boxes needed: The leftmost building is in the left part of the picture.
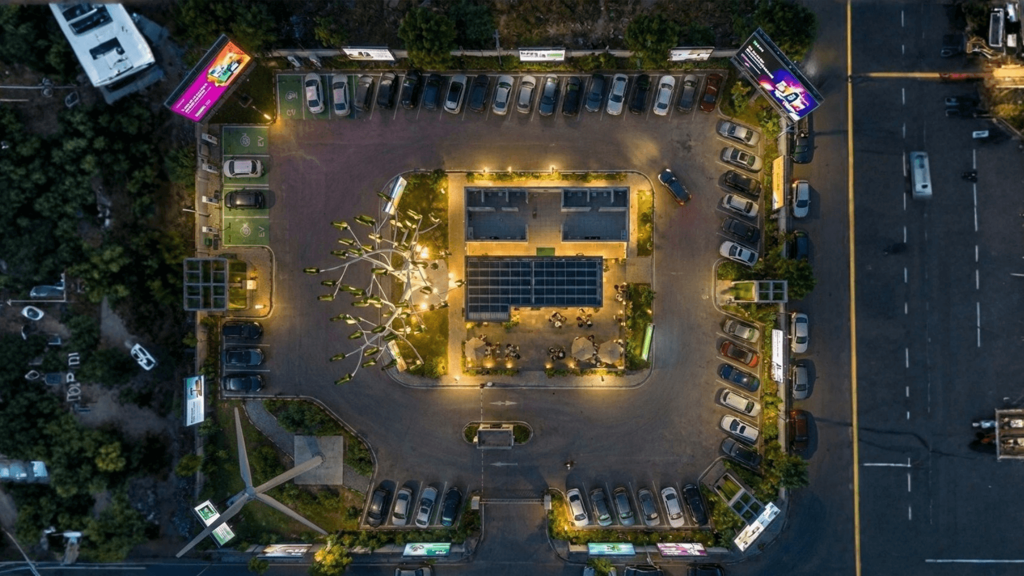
[51,0,180,103]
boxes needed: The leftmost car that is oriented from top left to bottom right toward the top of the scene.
[655,167,694,207]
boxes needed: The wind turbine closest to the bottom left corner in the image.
[176,409,343,557]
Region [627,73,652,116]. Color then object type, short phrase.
black car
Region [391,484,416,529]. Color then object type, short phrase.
gray car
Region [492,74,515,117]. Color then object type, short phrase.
gray car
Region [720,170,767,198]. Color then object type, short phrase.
black car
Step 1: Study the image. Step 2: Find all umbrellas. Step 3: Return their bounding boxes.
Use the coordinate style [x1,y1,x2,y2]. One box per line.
[571,336,595,360]
[464,337,488,361]
[599,339,623,362]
